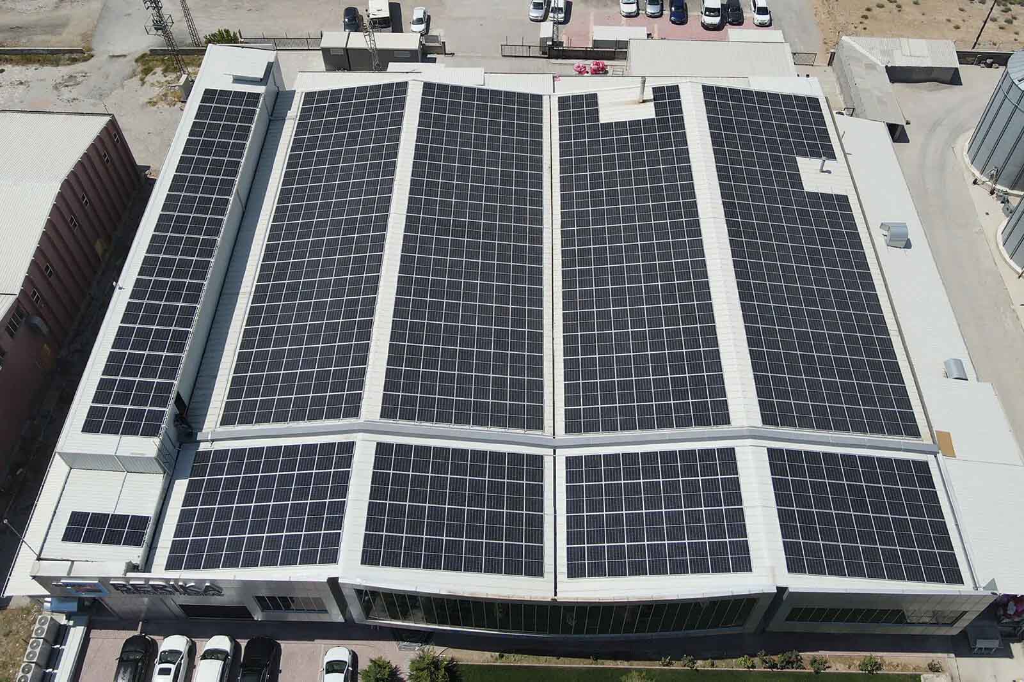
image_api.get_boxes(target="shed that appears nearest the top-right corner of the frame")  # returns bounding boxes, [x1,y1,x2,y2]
[833,34,959,141]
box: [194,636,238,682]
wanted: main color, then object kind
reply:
white car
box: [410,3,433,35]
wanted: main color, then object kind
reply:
white car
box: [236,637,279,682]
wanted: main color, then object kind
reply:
black car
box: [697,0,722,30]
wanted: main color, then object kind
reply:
white vehicle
